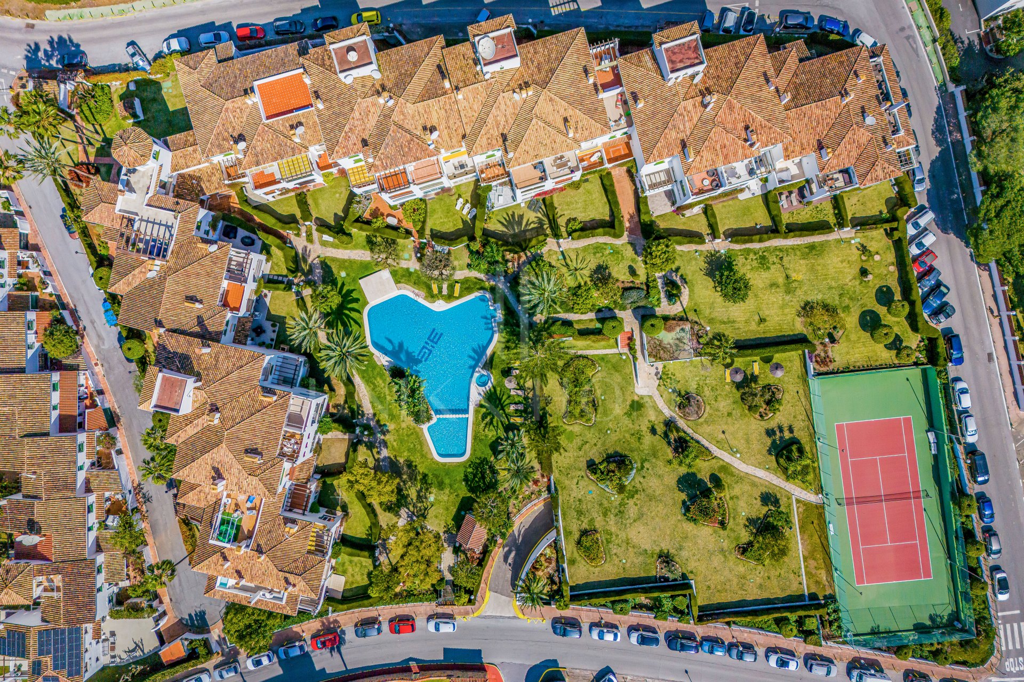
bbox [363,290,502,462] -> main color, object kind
blue swimming pool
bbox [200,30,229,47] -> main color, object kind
blue car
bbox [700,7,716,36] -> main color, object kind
blue car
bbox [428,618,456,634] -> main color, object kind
white car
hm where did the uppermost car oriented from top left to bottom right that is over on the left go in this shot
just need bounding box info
[125,41,152,72]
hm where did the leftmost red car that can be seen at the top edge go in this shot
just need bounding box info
[236,24,265,41]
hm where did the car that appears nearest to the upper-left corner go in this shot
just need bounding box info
[58,50,92,67]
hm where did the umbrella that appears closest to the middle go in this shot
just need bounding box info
[504,376,517,389]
